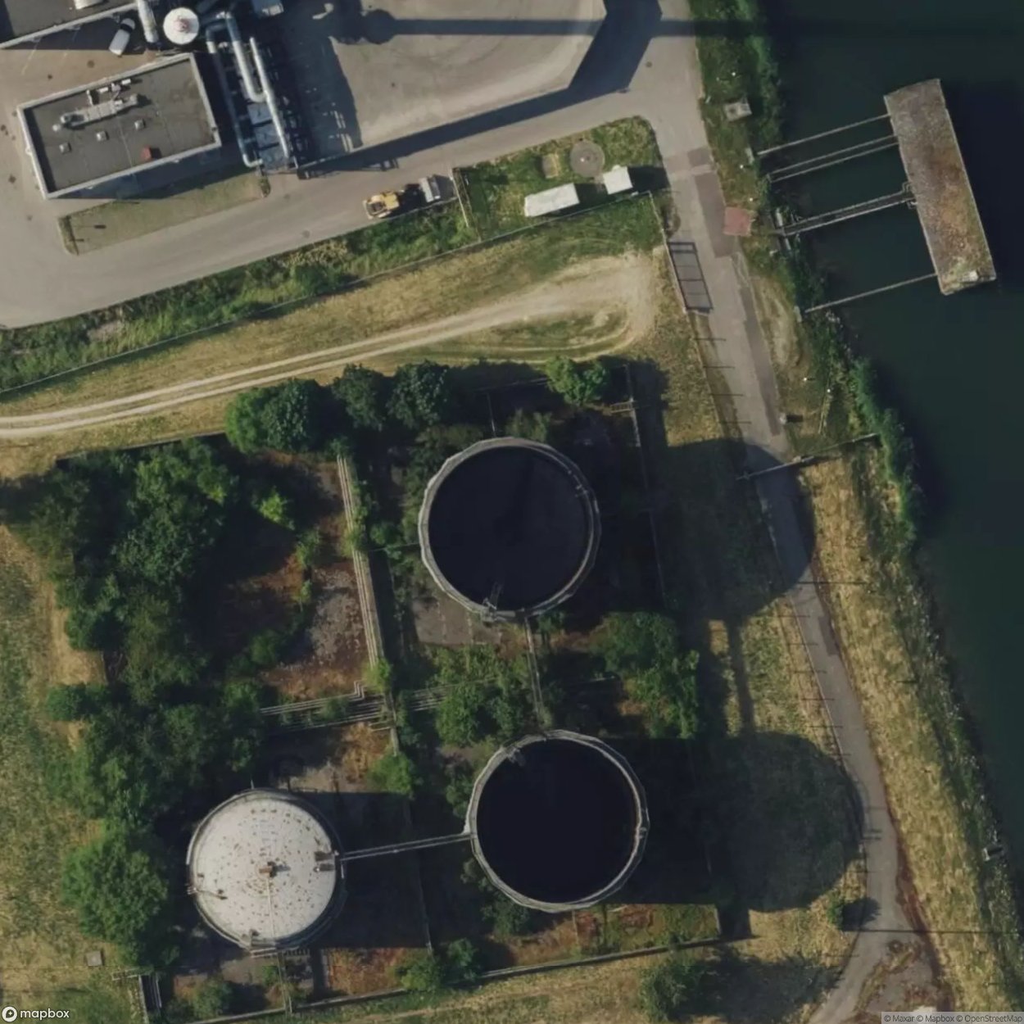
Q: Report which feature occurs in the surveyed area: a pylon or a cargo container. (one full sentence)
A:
It is a cargo container that can be seen here.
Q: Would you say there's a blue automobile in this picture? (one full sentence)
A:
No, there is no blue automobile in the image.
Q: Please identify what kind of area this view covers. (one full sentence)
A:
It's an industrial area.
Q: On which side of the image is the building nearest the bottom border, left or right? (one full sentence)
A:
It is on the left.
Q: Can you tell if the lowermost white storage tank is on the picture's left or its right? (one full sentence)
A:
The lowermost white storage tank is on the left side of the image.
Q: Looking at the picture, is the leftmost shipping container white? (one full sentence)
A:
Yes, white is the color of the leftmost shipping container.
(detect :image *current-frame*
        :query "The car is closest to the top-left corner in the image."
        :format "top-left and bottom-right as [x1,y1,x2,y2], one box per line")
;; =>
[107,17,135,53]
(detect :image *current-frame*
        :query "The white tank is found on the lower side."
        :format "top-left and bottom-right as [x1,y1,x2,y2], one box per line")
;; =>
[186,790,346,959]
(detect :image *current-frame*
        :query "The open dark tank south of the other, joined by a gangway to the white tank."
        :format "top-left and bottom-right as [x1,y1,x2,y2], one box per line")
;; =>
[464,731,648,911]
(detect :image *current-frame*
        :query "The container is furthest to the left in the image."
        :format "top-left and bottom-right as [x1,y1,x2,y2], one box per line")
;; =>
[525,183,579,216]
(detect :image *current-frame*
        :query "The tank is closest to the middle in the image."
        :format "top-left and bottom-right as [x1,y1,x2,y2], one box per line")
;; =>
[420,439,599,623]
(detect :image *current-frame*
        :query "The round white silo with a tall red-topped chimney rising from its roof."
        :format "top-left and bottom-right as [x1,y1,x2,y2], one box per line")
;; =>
[163,8,199,44]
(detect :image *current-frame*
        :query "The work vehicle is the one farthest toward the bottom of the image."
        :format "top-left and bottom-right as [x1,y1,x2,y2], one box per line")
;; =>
[364,174,443,217]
